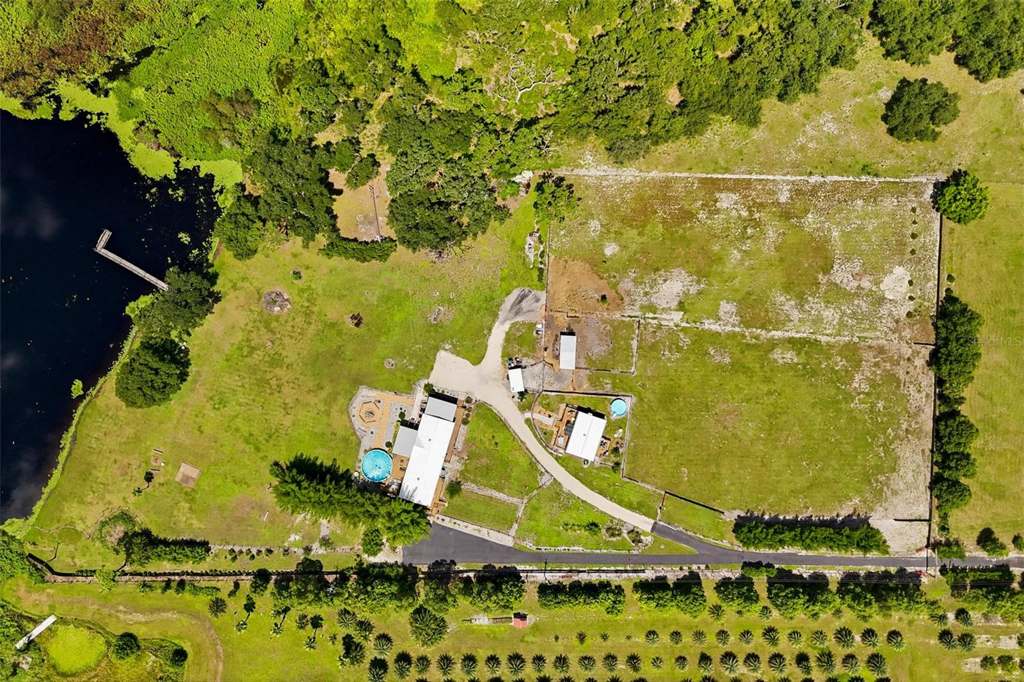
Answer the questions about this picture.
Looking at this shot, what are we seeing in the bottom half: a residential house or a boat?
residential house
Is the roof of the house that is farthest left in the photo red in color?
No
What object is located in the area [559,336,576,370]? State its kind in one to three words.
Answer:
barn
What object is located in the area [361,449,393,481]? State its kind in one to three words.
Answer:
swimming pool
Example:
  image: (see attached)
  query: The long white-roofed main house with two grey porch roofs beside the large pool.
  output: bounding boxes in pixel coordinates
[393,397,457,506]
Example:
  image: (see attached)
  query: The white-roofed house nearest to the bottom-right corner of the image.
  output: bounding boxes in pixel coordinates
[566,411,607,461]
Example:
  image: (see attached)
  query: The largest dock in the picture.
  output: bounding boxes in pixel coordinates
[93,229,165,287]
